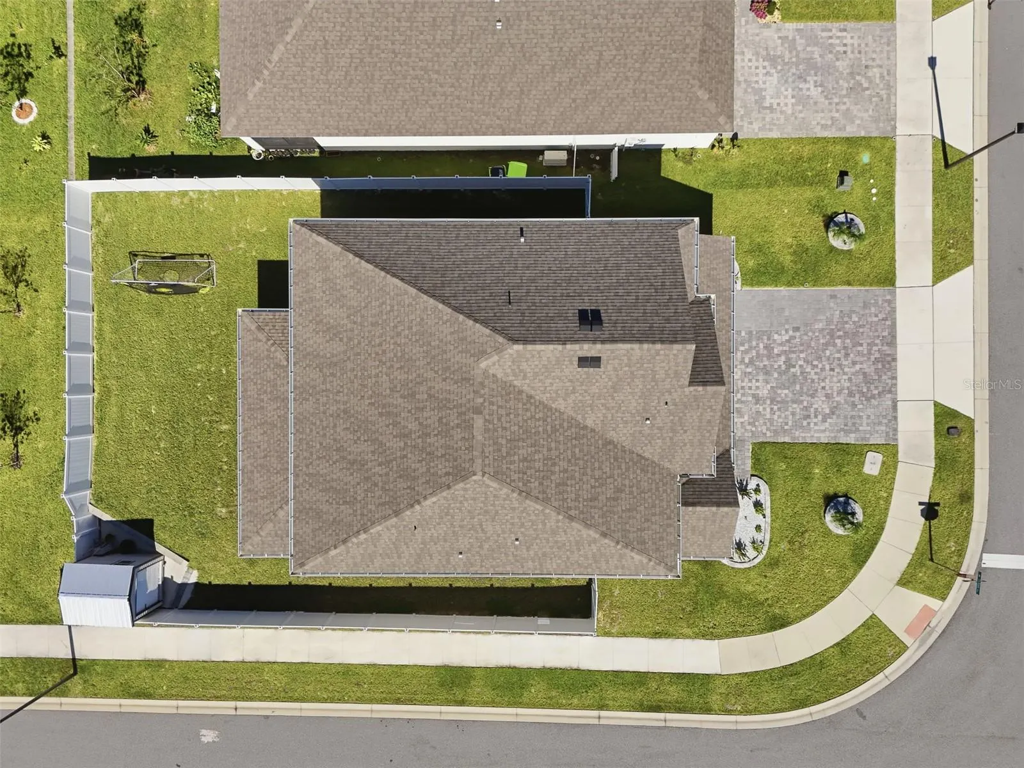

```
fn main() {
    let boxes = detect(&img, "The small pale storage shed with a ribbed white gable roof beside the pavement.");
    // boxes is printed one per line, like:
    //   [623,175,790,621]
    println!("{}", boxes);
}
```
[56,553,162,627]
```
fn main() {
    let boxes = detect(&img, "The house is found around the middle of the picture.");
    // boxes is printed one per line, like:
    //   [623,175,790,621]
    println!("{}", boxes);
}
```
[238,217,742,579]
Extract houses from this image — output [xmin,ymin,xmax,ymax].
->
[238,217,742,579]
[219,0,736,152]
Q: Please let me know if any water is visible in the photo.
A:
No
